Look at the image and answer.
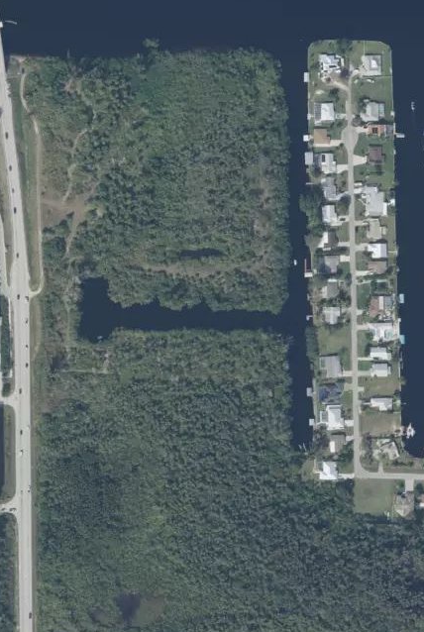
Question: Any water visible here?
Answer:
Yes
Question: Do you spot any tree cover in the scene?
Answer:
Yes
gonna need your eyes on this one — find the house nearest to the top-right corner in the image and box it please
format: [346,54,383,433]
[361,55,382,74]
